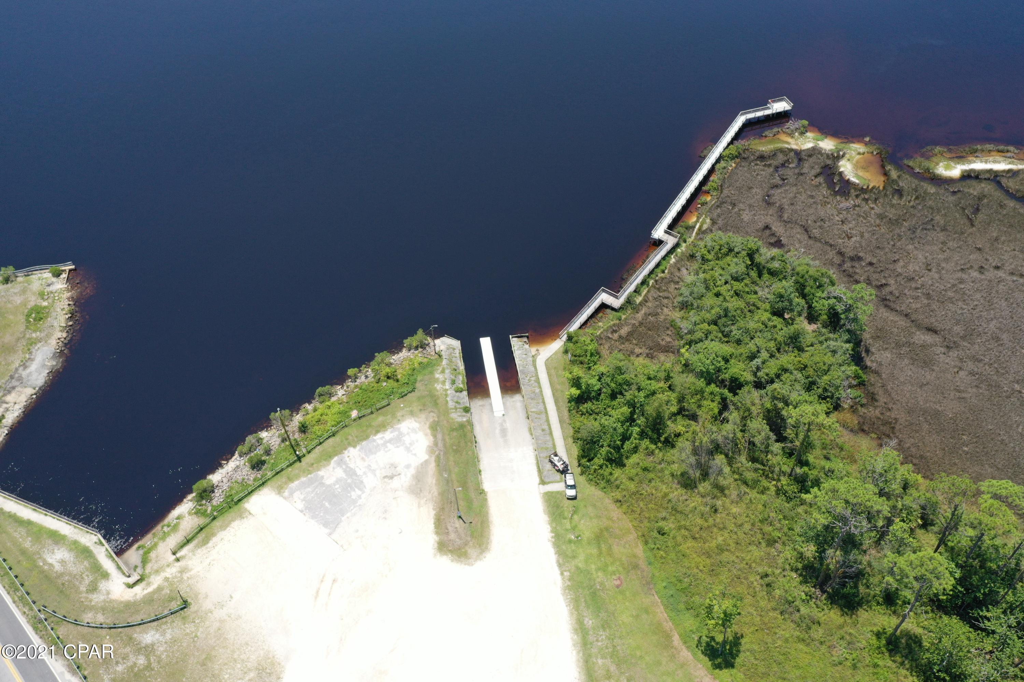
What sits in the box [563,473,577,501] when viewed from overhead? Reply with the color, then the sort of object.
white car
